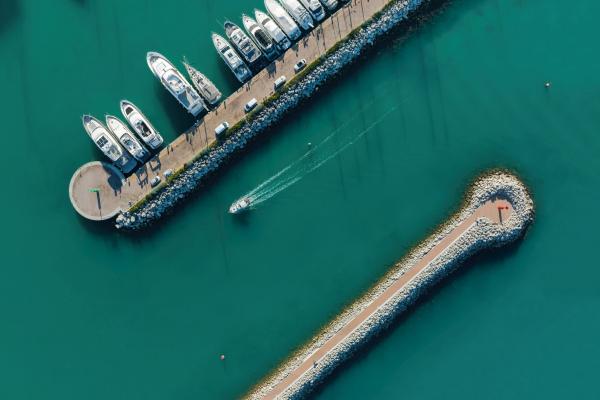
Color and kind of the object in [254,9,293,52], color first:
white boat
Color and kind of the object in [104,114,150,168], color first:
white boat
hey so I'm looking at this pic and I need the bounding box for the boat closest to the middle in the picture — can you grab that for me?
[230,198,251,212]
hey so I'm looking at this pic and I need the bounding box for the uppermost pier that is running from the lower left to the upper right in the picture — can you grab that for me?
[69,0,441,241]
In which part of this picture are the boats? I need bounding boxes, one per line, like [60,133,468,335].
[264,0,304,44]
[146,52,210,121]
[104,114,150,168]
[295,0,327,25]
[230,198,251,212]
[81,114,133,170]
[278,0,317,35]
[318,0,341,14]
[243,15,280,64]
[212,34,250,86]
[180,57,222,106]
[254,9,293,52]
[119,101,166,152]
[225,21,263,64]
